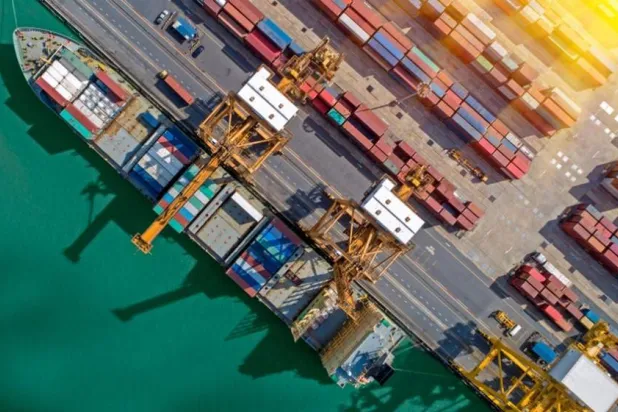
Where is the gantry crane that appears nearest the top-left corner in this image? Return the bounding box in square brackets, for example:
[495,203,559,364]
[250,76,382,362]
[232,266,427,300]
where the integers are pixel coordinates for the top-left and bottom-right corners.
[124,27,340,261]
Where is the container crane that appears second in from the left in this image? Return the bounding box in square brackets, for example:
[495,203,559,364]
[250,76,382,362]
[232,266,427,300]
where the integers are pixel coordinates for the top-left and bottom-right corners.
[300,156,448,341]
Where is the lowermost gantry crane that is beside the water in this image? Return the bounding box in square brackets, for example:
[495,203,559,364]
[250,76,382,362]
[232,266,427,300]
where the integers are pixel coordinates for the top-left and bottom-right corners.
[445,308,618,412]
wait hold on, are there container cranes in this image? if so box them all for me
[445,308,618,412]
[300,156,448,341]
[124,27,340,261]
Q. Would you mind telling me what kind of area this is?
port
